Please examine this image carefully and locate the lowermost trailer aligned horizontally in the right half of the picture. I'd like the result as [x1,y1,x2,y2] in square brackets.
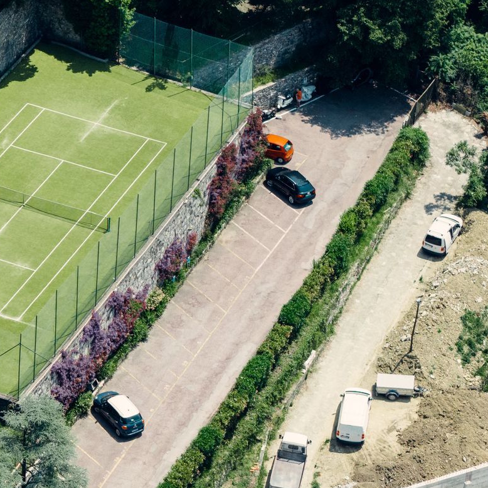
[375,373,433,401]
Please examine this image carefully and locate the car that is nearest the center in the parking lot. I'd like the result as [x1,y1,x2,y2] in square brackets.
[265,165,320,205]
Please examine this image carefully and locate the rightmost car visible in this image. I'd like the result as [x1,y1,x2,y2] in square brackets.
[419,215,466,260]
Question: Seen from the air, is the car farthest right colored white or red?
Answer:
white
